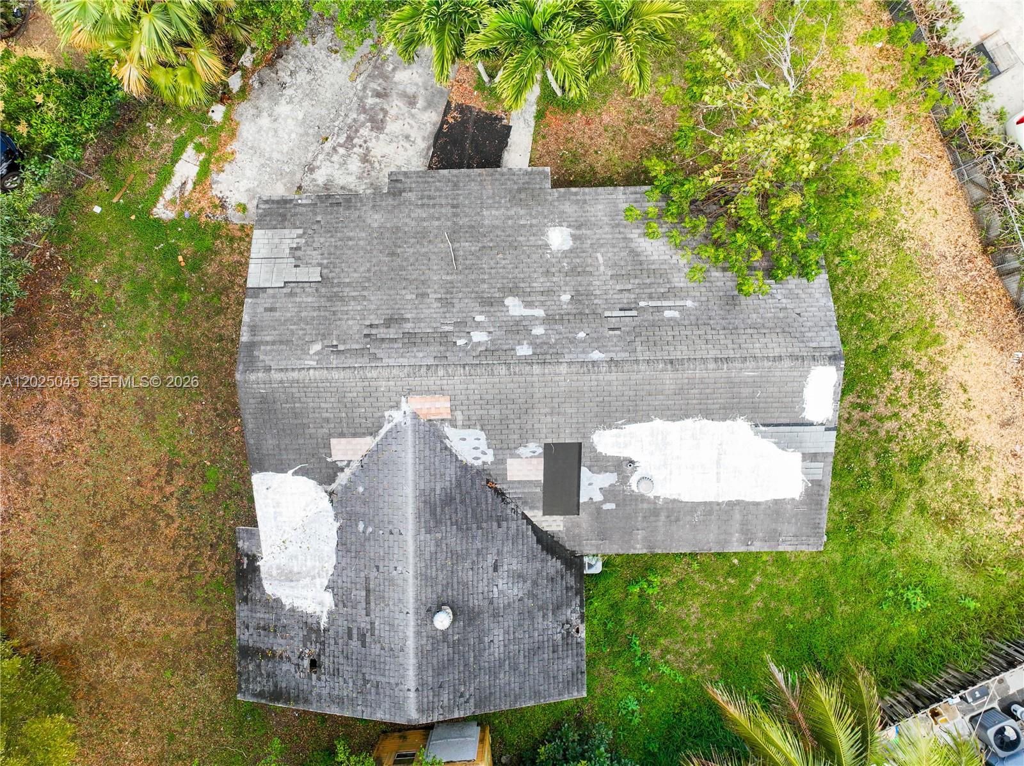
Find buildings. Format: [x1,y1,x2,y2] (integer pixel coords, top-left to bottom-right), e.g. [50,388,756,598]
[361,724,491,766]
[235,166,846,724]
